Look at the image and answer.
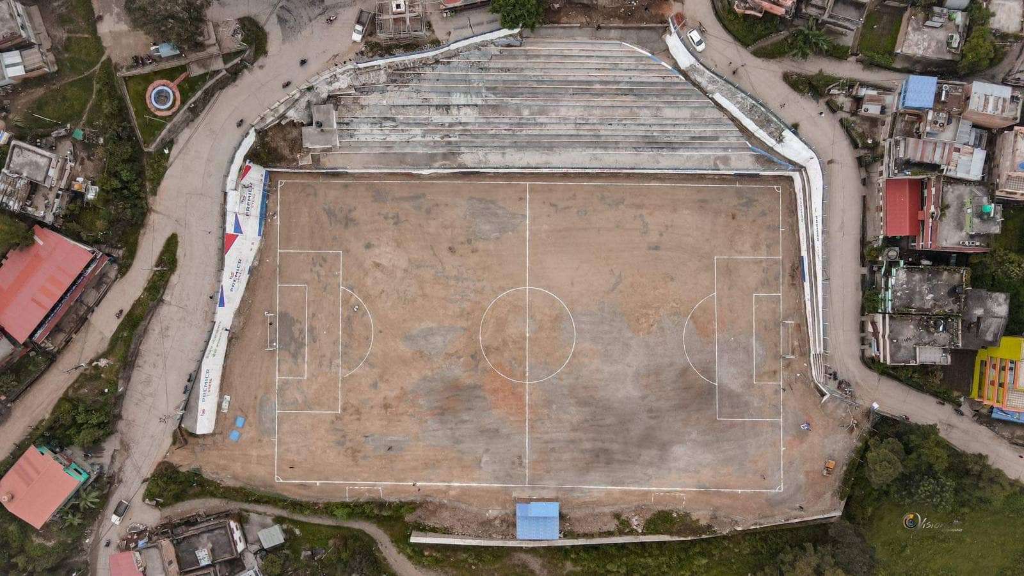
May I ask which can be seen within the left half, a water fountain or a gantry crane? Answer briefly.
water fountain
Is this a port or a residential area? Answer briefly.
residential area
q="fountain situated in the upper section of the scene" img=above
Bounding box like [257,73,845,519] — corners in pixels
[145,80,181,115]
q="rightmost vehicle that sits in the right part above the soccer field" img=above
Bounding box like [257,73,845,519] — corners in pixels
[687,27,704,51]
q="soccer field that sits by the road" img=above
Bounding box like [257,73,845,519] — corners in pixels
[168,173,861,539]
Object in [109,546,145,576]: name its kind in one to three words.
house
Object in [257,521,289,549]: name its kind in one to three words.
shed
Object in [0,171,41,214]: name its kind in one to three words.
shed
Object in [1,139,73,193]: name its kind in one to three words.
house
